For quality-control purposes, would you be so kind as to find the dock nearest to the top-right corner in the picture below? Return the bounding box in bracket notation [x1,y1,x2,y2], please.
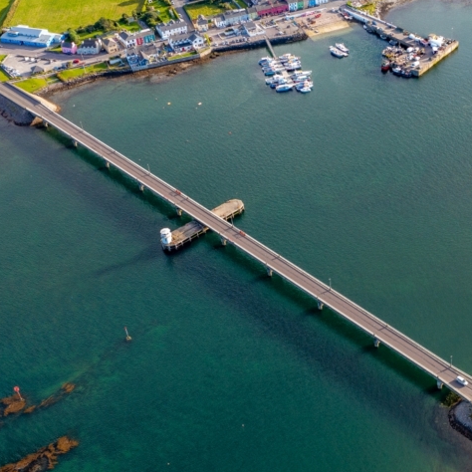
[340,4,460,78]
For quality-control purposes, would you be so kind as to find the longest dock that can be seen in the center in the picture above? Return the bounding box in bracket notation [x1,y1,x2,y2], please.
[155,199,247,253]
